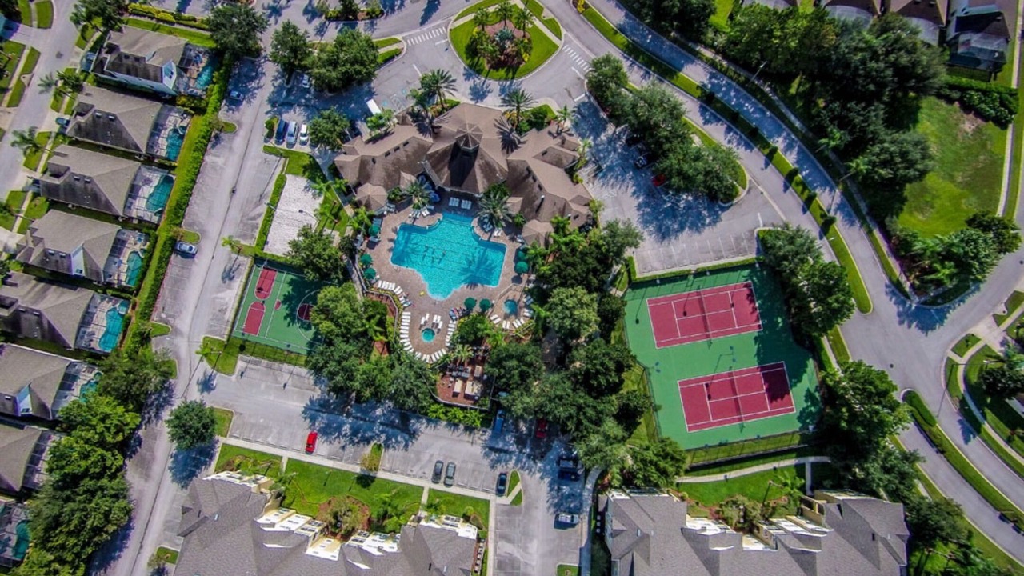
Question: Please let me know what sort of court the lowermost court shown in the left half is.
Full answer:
Specifically, the lowermost court shown in the left half is a basketball court.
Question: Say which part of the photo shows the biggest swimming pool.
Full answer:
The biggest swimming pool appears toward the center of the photo.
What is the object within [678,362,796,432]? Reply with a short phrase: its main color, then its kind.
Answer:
red tennis court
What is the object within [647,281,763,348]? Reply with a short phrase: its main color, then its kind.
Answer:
red tennis court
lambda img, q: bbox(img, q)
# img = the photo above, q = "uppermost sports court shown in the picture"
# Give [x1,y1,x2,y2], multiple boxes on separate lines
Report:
[264,174,322,256]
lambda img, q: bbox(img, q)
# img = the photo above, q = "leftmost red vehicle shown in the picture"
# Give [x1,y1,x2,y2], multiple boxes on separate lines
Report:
[304,432,316,454]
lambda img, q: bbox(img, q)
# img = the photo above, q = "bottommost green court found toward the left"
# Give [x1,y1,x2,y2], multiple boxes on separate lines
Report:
[235,265,341,354]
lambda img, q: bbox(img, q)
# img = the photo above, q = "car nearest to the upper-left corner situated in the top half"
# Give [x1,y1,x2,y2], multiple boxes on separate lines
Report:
[76,49,93,72]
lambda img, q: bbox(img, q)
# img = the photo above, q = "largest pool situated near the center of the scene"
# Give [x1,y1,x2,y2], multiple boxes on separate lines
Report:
[391,212,507,301]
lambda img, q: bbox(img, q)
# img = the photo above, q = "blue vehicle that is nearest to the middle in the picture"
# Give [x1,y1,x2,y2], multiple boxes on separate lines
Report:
[492,409,505,437]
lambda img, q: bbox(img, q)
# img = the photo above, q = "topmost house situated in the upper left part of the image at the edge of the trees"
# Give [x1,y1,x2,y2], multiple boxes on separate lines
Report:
[92,32,200,95]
